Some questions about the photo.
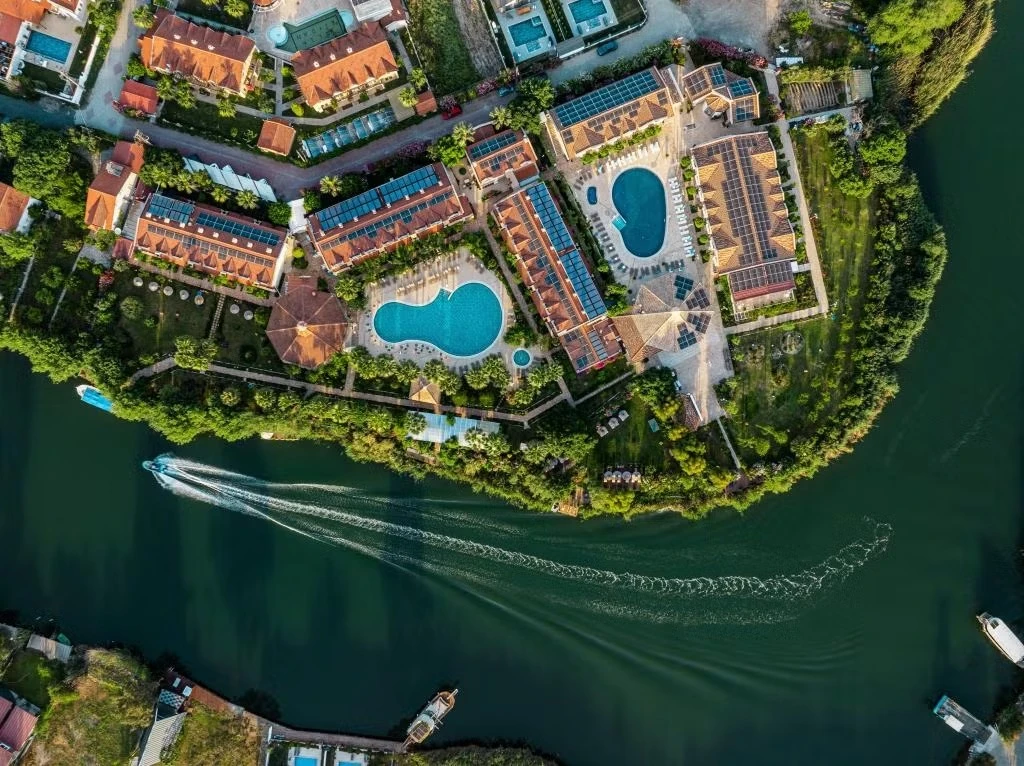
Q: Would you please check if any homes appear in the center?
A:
Yes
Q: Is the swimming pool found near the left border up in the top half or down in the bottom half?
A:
top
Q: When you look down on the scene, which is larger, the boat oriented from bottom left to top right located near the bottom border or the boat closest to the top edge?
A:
the boat oriented from bottom left to top right located near the bottom border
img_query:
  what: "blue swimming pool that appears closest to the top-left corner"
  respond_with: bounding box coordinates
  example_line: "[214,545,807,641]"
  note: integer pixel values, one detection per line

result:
[27,30,73,65]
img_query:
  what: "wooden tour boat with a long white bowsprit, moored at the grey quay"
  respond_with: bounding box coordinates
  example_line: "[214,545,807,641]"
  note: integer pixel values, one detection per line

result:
[406,690,456,755]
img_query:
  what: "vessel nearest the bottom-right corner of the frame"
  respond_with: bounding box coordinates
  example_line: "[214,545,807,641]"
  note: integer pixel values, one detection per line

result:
[930,691,996,751]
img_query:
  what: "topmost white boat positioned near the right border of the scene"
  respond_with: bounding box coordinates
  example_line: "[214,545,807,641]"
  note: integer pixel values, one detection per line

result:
[981,612,1024,671]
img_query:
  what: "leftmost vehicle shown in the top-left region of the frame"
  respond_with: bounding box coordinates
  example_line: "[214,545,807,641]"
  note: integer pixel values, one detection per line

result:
[186,146,200,163]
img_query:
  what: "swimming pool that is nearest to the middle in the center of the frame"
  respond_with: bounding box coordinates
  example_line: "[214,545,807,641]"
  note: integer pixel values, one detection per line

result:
[511,347,532,368]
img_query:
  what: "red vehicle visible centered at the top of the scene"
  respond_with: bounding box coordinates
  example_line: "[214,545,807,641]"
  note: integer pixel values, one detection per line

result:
[441,103,462,118]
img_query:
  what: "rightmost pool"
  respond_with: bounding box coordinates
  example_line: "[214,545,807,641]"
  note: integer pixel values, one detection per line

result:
[610,166,668,258]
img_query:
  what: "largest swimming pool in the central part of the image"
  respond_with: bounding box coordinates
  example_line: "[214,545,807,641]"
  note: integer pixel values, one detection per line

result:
[372,279,505,358]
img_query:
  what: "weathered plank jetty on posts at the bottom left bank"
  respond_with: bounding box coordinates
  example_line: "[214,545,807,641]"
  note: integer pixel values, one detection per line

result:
[27,634,73,662]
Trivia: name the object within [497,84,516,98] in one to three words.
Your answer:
car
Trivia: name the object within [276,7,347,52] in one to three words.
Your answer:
swimming pool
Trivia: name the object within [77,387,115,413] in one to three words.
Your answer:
boat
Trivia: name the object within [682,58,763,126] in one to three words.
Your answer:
building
